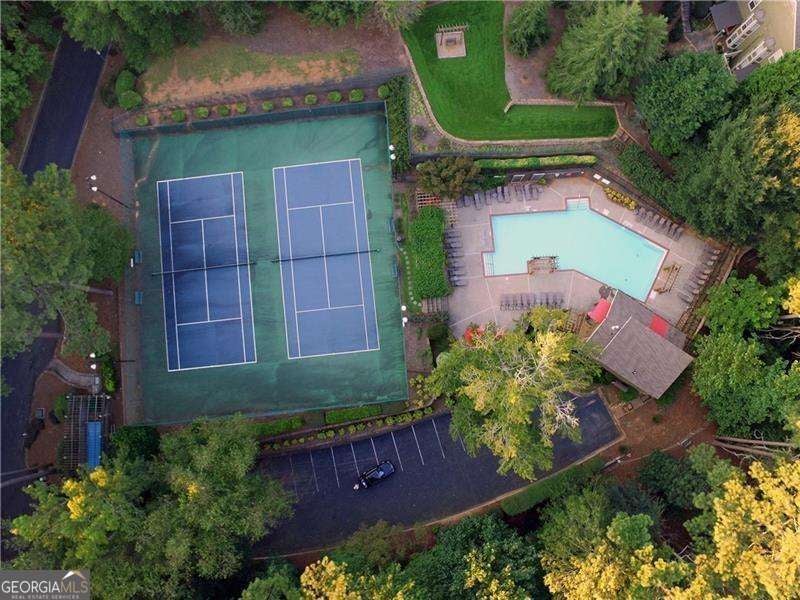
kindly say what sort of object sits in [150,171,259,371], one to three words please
tennis court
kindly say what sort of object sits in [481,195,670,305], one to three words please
swimming pool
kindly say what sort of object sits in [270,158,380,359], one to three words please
tennis court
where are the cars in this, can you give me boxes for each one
[357,462,398,492]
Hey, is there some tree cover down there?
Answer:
Yes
